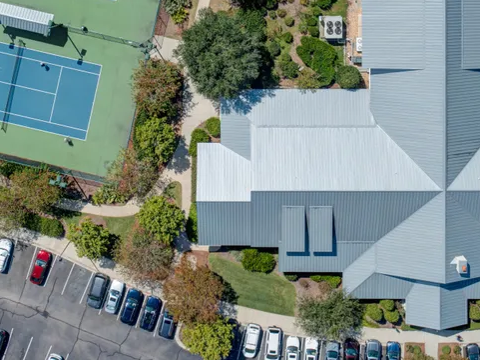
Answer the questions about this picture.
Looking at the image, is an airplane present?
No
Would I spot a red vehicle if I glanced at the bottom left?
Yes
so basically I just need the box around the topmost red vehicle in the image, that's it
[30,248,52,286]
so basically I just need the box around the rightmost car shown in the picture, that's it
[464,341,480,360]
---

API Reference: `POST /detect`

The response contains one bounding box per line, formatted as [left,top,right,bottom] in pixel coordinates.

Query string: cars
[366,340,381,360]
[104,278,125,314]
[49,351,62,360]
[139,295,160,333]
[0,236,13,273]
[344,338,359,360]
[87,271,109,310]
[386,340,402,360]
[243,323,261,360]
[157,310,175,340]
[464,341,480,360]
[121,288,142,326]
[0,327,6,357]
[304,338,319,360]
[30,248,52,286]
[286,337,300,360]
[265,329,282,360]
